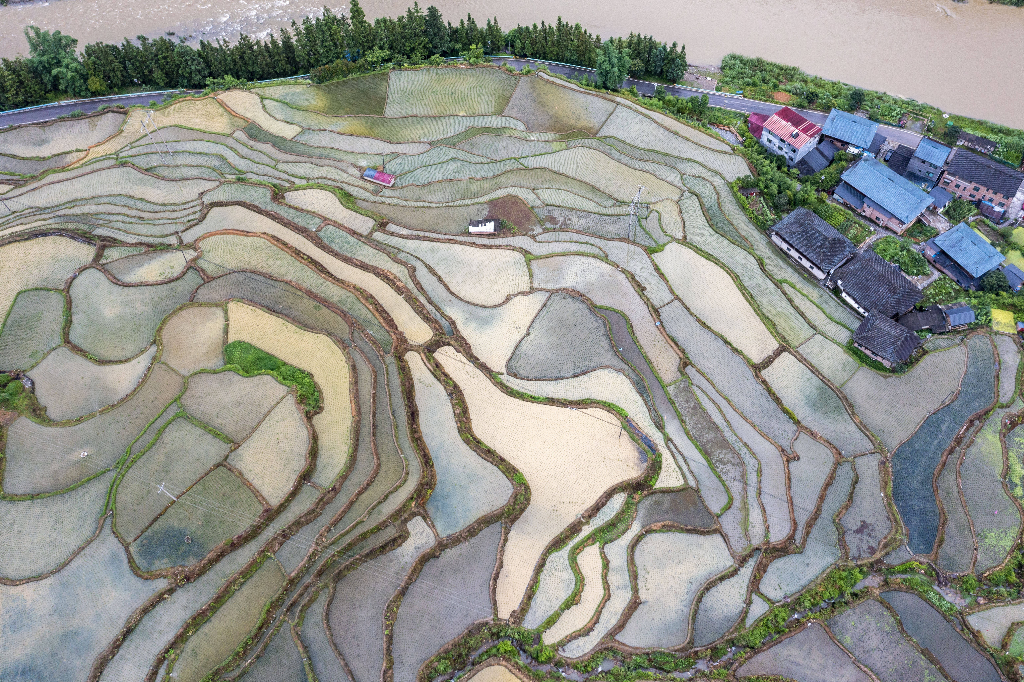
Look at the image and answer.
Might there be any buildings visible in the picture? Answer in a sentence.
Yes, I can see a building in this picture.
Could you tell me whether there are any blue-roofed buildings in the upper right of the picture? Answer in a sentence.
Yes, the scene does show a blue-roofed building in the upper right of the picture.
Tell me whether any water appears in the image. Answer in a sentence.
Yes, the picture does contain water.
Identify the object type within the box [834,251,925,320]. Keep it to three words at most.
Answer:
house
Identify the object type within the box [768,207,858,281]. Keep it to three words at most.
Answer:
house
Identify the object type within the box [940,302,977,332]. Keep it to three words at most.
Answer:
shed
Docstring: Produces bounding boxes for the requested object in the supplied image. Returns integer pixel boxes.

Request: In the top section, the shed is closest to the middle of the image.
[469,218,500,238]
